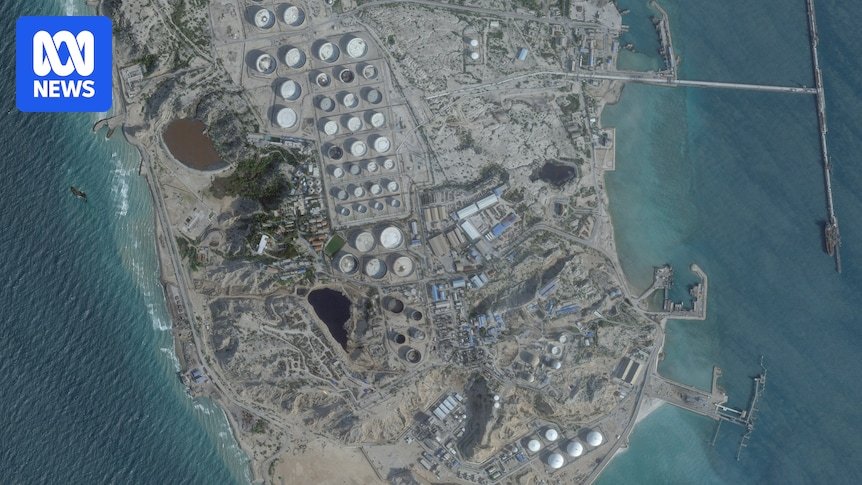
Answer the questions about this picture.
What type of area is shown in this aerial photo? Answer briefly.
port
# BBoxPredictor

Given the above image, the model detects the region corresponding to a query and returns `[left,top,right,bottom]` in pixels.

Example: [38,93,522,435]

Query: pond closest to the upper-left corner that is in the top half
[163,118,222,171]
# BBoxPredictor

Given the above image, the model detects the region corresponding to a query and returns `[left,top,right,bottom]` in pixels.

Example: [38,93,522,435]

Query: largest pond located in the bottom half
[308,287,352,350]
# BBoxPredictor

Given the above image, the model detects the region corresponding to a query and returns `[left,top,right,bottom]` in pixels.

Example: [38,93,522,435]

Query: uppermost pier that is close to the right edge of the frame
[806,0,840,273]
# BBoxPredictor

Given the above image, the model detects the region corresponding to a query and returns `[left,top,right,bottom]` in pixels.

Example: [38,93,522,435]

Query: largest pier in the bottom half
[644,367,727,420]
